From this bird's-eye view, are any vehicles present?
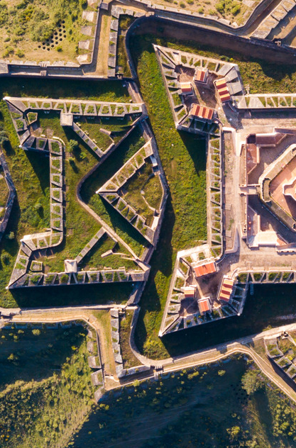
No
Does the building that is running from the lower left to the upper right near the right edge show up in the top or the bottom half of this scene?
top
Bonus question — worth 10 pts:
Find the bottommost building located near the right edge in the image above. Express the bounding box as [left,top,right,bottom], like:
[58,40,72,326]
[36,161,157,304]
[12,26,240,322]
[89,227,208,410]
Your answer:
[246,206,295,251]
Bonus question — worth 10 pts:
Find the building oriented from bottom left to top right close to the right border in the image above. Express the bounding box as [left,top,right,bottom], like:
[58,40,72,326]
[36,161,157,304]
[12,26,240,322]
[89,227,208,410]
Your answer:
[246,128,296,175]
